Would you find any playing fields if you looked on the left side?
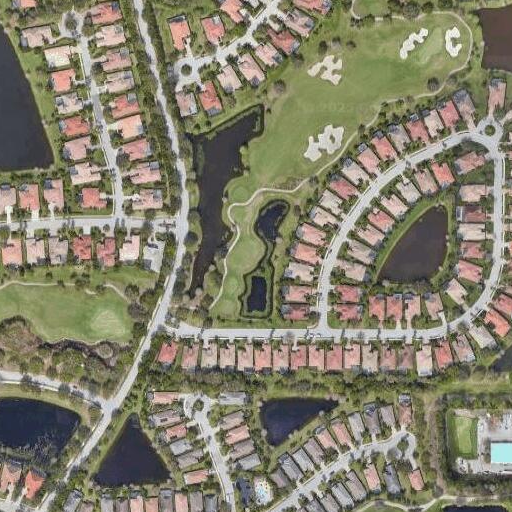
No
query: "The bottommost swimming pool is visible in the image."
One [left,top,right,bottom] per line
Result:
[254,477,274,505]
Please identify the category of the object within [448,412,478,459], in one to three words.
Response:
sports field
